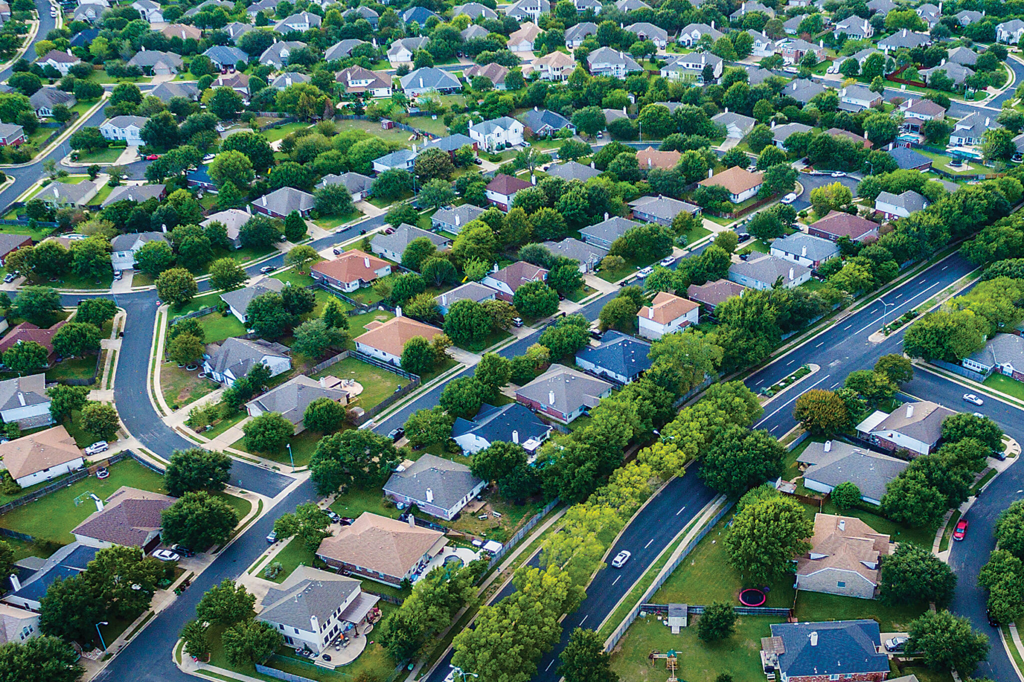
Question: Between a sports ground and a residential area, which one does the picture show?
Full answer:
This looks like a residential area.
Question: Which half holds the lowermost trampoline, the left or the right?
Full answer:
It is on the right.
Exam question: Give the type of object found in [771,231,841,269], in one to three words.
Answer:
house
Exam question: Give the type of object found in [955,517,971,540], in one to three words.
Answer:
vehicle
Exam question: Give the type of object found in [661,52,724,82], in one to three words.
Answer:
house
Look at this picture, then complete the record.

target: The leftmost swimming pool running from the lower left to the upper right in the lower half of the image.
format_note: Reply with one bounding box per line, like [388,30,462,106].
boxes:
[413,537,493,579]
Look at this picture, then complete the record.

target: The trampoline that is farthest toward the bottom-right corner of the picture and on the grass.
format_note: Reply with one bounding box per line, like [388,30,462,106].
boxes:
[738,586,767,606]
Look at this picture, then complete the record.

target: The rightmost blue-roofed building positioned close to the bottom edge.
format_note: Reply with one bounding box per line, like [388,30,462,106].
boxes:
[760,614,894,682]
